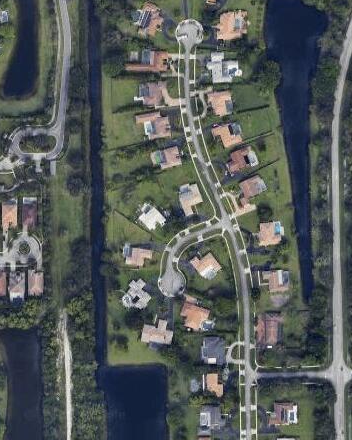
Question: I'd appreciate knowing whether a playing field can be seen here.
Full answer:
No, I can see no playing field in this picture.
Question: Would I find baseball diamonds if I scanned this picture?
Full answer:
No, there isn't any baseball diamond down there.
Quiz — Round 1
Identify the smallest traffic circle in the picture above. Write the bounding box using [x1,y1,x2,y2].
[8,233,40,264]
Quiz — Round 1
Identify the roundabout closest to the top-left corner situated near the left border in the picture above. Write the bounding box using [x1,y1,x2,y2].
[11,126,65,160]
